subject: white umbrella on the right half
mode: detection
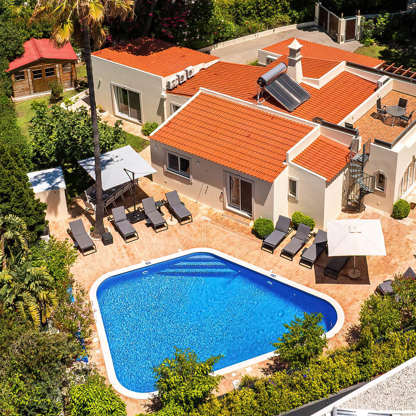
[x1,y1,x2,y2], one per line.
[327,220,386,278]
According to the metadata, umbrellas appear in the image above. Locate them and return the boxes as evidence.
[327,220,386,278]
[78,146,156,223]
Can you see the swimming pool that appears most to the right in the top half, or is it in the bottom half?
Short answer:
bottom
